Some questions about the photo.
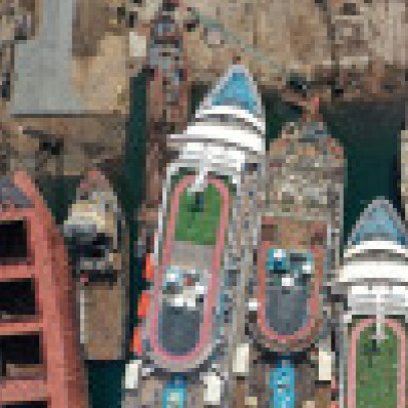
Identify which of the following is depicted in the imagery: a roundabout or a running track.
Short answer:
running track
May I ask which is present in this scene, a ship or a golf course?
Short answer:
ship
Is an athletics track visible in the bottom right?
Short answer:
Yes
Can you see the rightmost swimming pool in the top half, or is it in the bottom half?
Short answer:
bottom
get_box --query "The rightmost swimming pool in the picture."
[269,356,295,408]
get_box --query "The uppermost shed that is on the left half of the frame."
[130,31,148,57]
